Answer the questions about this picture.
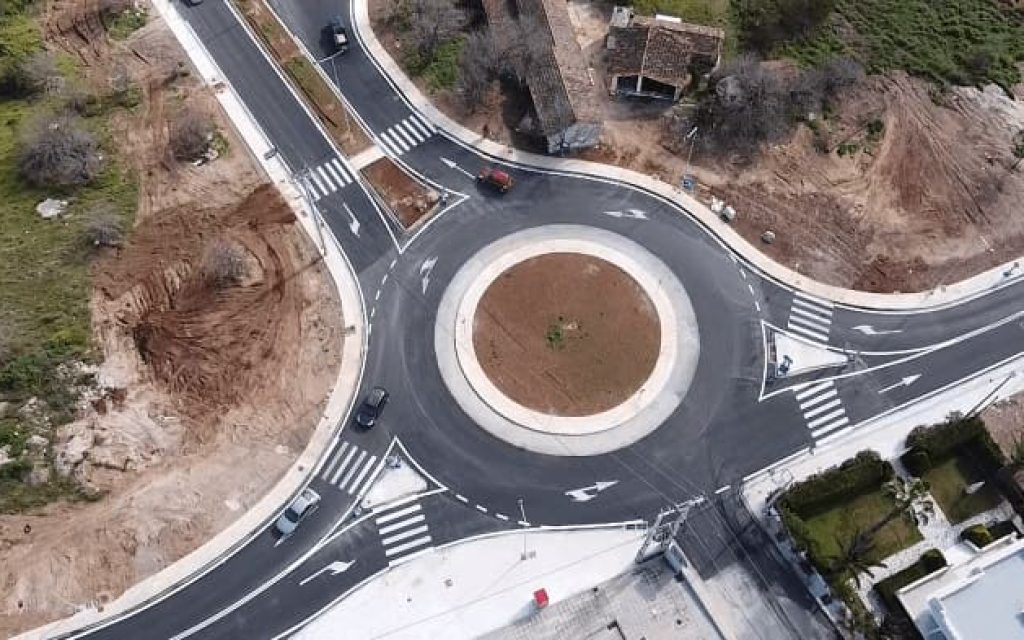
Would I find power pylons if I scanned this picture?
Yes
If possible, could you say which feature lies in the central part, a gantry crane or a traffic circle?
traffic circle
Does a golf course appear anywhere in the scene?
No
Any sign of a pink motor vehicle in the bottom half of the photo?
No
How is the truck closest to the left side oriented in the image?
on a diagonal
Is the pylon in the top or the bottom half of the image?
bottom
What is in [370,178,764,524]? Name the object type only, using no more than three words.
roundabout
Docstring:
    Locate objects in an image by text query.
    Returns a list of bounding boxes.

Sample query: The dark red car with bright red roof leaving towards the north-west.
[474,168,515,194]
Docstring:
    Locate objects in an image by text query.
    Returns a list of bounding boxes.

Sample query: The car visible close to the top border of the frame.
[327,25,349,52]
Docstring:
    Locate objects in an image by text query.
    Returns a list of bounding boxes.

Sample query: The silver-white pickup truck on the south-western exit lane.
[269,484,320,541]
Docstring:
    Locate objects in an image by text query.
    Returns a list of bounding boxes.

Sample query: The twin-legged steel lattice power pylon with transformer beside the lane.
[628,493,706,570]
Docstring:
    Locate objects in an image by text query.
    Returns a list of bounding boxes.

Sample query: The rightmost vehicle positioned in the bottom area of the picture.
[354,385,386,432]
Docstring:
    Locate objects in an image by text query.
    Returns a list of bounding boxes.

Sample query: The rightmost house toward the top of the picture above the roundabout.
[607,12,723,104]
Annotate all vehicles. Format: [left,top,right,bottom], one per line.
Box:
[354,385,386,432]
[327,25,349,52]
[269,484,320,541]
[474,168,515,194]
